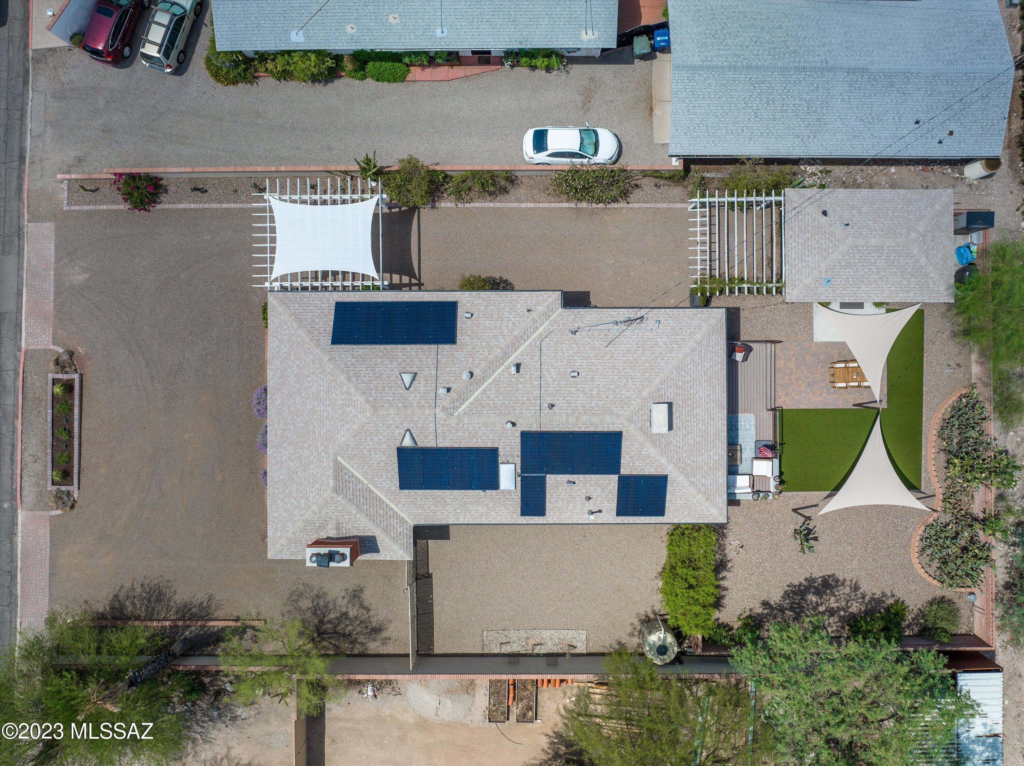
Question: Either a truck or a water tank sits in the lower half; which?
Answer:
water tank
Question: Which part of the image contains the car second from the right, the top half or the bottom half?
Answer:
top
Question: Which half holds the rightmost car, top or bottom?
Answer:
top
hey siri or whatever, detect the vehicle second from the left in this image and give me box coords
[137,0,205,78]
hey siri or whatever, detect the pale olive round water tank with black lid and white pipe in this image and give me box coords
[636,614,677,663]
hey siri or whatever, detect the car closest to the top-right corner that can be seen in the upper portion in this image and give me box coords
[522,119,618,166]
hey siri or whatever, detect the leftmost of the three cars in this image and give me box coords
[80,0,153,69]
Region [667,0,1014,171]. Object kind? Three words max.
house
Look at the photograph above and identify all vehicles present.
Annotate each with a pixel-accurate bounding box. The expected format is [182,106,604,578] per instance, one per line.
[522,119,618,166]
[137,0,205,78]
[80,0,153,69]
